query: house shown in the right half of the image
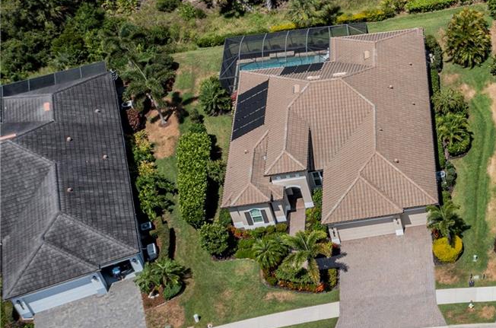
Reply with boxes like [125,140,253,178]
[221,25,440,242]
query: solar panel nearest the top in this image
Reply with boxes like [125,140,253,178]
[280,63,324,76]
